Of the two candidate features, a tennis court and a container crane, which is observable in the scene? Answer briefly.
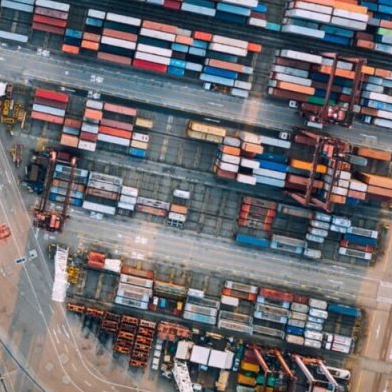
container crane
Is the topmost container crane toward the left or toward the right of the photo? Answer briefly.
right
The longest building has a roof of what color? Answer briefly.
white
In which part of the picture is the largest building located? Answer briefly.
bottom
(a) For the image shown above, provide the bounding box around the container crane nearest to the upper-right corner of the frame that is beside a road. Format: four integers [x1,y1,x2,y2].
[300,53,361,131]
